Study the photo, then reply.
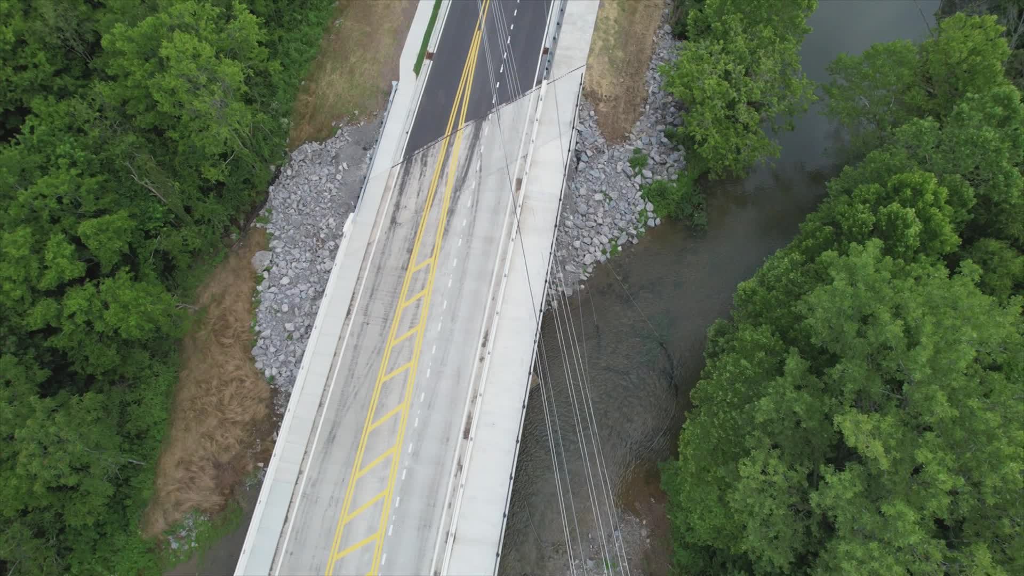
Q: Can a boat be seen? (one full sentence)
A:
No, I can see no boat in this picture.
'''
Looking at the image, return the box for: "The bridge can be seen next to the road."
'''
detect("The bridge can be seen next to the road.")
[234,65,586,576]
